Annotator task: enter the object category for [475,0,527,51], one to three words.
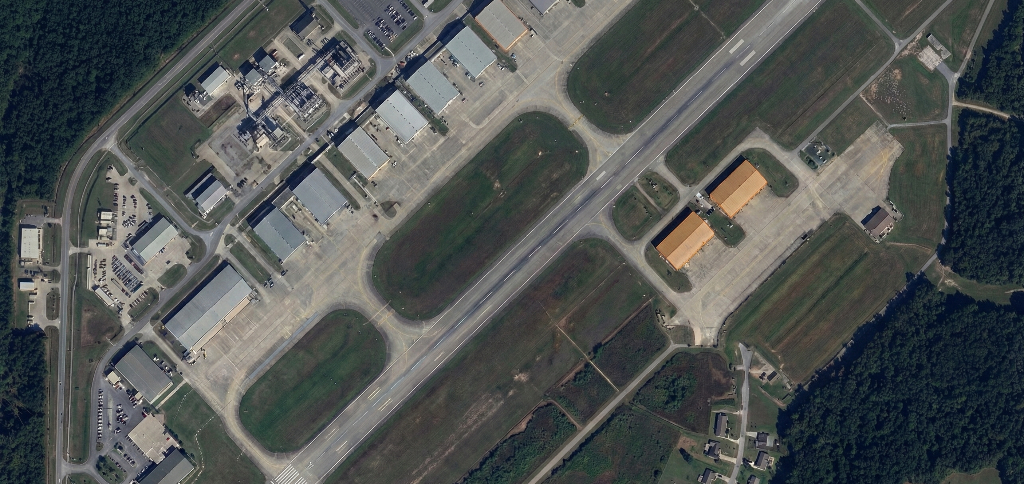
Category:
hangar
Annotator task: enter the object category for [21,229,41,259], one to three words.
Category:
building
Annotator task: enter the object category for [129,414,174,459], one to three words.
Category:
building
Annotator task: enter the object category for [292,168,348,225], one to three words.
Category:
hangar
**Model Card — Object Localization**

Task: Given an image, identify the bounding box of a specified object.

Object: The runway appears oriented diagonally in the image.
[268,0,821,484]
